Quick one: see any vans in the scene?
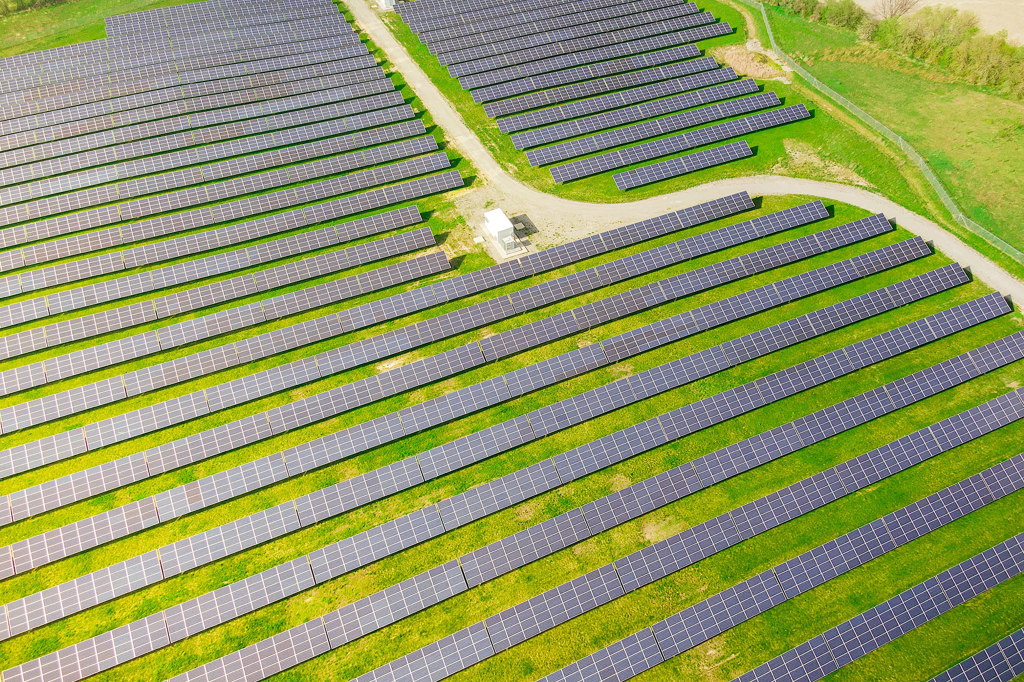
No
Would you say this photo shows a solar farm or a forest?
solar farm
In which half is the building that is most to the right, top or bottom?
top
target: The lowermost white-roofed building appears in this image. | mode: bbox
[486,209,516,242]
